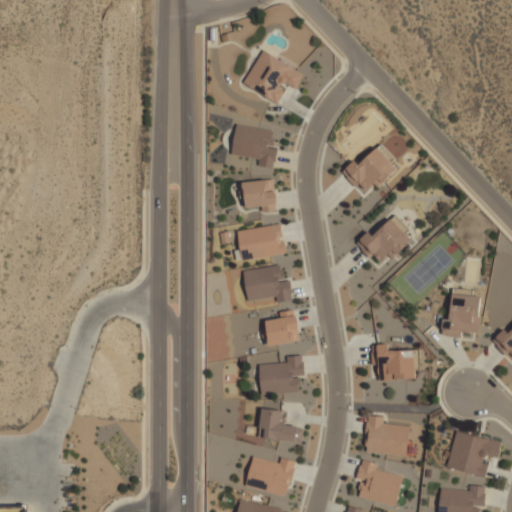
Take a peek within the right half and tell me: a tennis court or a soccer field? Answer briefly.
tennis court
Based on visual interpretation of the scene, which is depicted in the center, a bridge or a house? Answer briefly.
house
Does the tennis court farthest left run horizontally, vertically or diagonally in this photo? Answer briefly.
diagonally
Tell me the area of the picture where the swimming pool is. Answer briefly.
top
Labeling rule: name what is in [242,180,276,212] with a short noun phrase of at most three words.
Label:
house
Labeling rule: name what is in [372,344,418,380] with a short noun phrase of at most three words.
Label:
house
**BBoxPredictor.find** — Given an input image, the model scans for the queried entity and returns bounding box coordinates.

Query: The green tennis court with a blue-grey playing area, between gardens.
[391,233,466,304]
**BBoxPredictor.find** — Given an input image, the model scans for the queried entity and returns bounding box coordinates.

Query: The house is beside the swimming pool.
[243,50,302,103]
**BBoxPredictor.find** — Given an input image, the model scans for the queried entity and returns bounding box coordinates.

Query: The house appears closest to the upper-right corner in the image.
[344,144,400,194]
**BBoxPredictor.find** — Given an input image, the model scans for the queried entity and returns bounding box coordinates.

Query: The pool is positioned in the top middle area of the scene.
[264,30,290,50]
